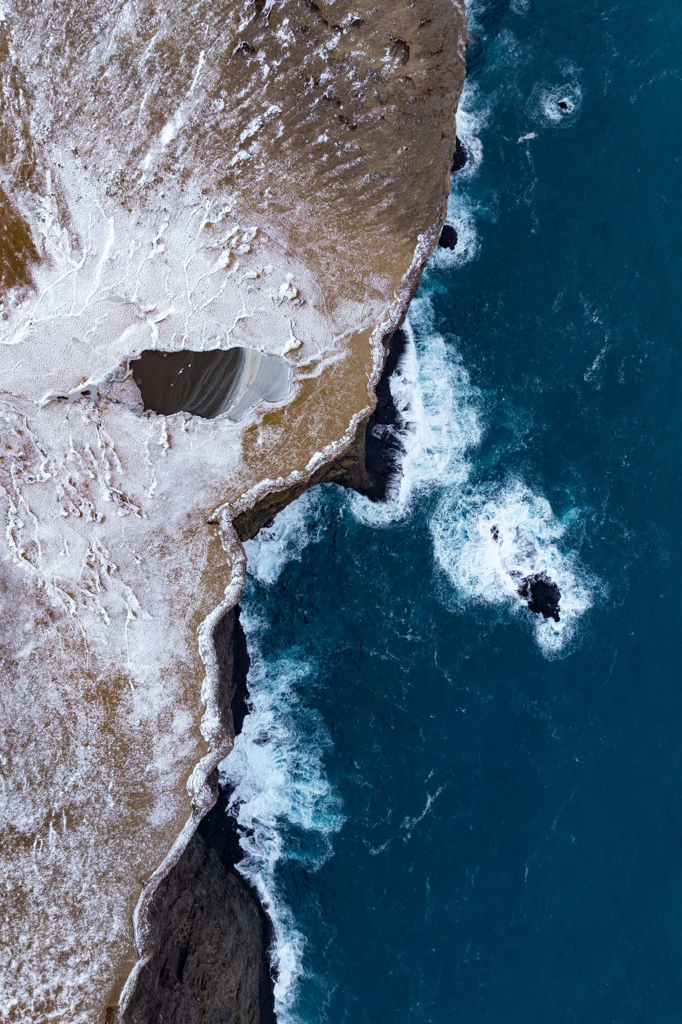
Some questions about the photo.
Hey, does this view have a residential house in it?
No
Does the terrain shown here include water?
Yes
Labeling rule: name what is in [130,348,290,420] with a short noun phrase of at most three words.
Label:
pond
